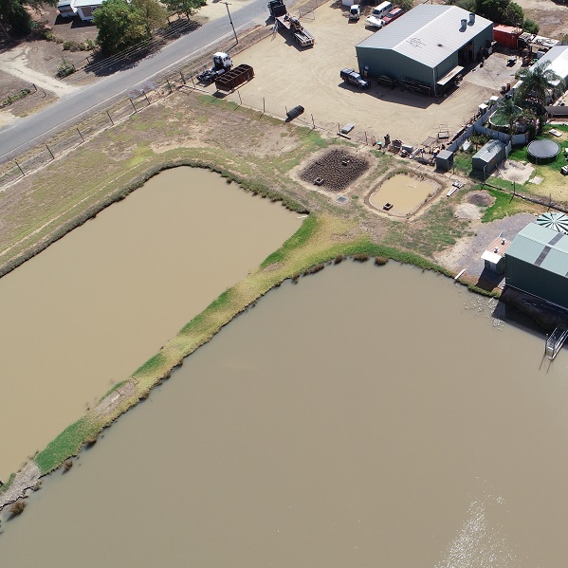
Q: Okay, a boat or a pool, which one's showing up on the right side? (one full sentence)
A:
What appears on the right side is a pool.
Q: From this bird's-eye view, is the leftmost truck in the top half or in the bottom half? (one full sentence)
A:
It is in the top half that the leftmost truck appears.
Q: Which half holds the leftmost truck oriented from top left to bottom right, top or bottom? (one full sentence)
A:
It is in the top half that the leftmost truck oriented from top left to bottom right appears.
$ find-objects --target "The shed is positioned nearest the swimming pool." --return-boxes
[474,140,506,174]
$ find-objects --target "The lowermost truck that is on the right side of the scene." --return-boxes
[341,67,368,88]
